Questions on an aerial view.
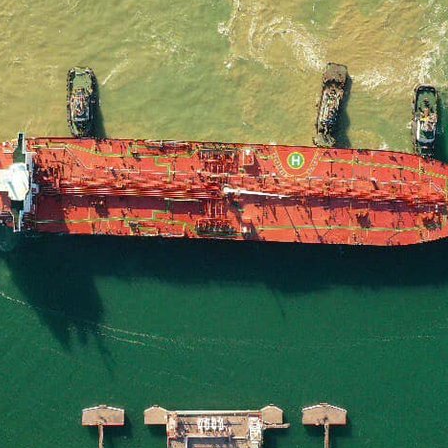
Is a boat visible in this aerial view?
Yes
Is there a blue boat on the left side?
No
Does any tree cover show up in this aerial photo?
No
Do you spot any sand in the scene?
No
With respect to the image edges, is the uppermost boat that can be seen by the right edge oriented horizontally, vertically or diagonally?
vertically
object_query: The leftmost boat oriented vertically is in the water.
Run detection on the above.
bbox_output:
[66,66,96,138]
